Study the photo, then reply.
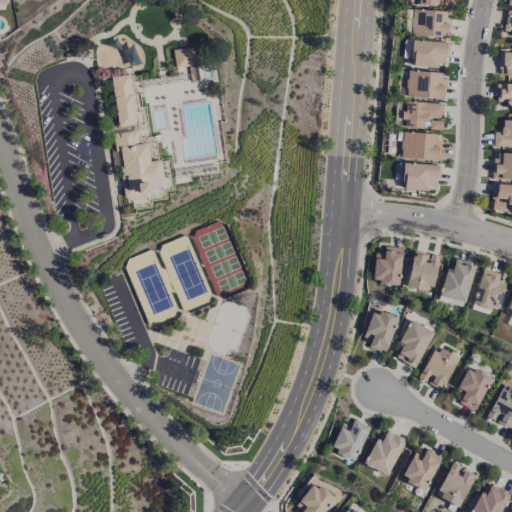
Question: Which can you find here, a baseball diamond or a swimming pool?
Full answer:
It is a swimming pool that can be seen here.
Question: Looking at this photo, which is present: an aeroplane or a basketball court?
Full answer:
Looking from above, you can make out a basketball court.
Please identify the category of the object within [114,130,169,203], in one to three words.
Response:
building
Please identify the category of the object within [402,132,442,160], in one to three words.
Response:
house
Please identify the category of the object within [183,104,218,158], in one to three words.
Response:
swimming pool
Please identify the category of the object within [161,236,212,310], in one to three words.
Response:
tennis court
